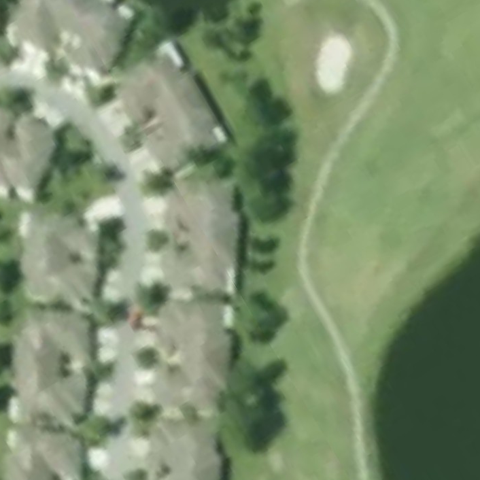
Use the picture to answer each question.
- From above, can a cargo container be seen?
No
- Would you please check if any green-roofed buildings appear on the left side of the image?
No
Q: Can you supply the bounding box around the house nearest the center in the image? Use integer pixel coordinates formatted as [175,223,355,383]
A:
[161,179,240,297]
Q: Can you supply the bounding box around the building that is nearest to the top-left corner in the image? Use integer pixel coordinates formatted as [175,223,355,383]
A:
[6,0,134,72]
